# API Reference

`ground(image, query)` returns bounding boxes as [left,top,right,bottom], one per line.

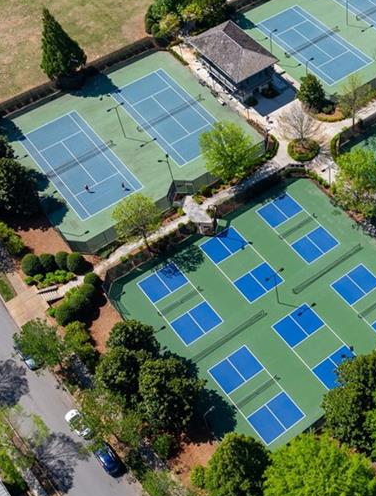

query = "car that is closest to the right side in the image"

[91,440,124,477]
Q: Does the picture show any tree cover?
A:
Yes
